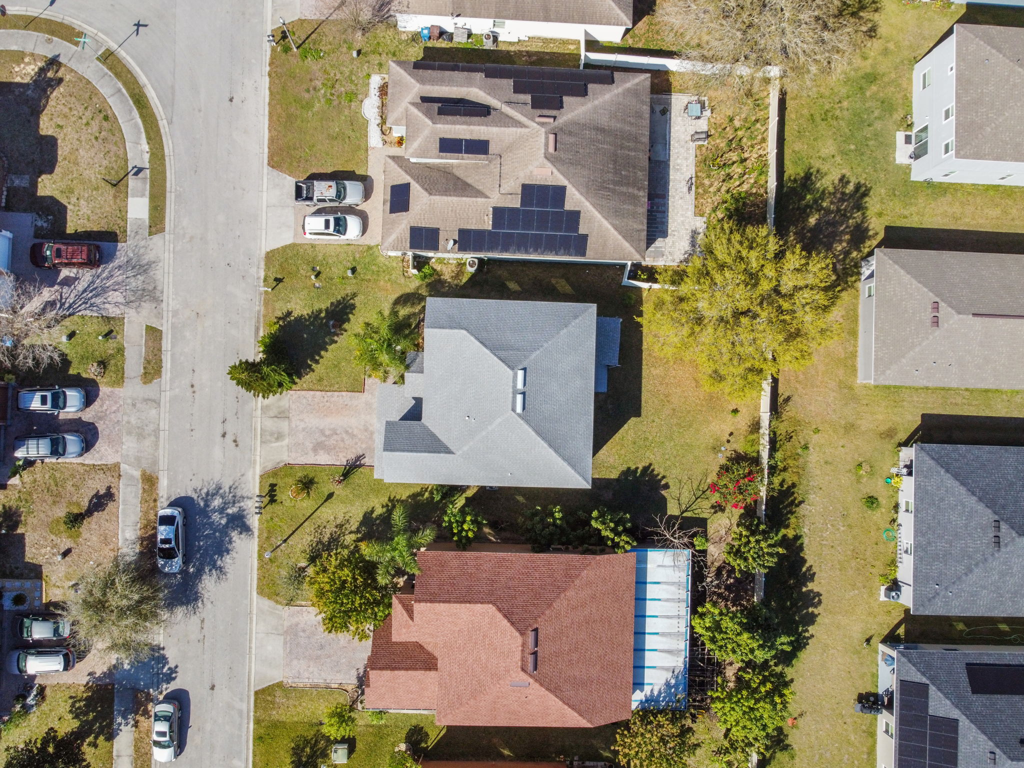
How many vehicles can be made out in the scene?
9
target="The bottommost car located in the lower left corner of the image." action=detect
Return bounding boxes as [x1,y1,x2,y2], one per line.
[151,695,187,758]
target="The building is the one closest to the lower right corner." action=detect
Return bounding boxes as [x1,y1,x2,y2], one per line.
[878,643,1024,768]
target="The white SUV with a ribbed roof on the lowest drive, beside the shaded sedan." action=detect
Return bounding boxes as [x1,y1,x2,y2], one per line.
[9,643,81,678]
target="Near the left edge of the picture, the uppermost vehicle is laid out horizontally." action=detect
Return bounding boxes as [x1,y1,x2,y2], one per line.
[33,238,105,271]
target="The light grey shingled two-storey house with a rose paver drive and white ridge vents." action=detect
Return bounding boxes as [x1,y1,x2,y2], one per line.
[375,298,621,489]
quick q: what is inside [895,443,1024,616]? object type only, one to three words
house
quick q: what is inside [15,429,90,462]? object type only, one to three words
car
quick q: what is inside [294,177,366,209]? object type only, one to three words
truck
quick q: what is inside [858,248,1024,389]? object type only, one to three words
house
